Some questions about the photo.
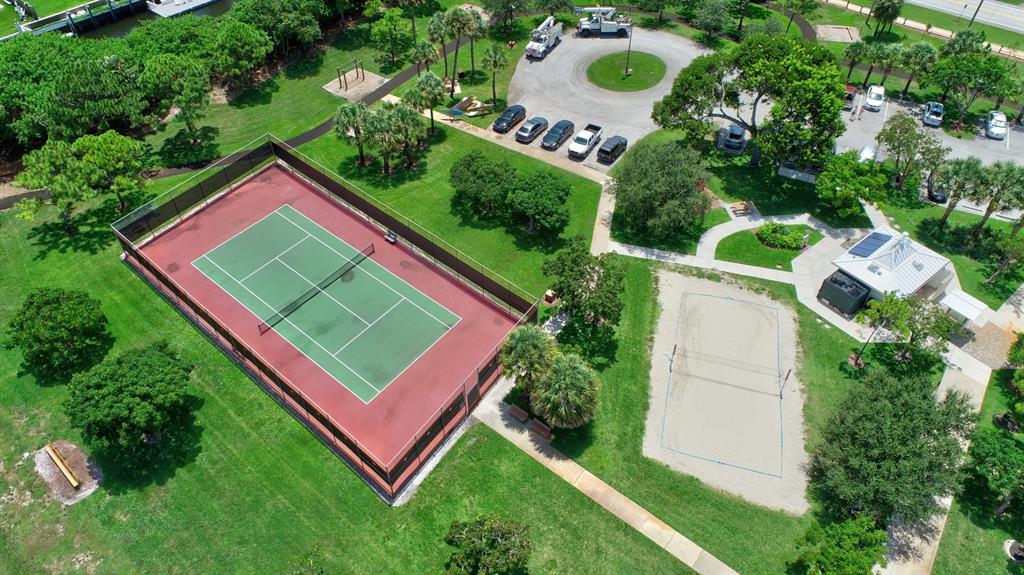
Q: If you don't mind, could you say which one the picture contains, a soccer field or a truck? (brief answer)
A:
truck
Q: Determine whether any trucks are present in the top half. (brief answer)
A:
Yes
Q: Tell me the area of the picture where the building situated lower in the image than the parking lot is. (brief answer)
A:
right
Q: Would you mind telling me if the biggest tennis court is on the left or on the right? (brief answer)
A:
left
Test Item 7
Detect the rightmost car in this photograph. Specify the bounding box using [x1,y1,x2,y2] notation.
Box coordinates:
[985,111,1009,140]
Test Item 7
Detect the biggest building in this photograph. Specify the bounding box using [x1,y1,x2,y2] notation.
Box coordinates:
[832,225,950,308]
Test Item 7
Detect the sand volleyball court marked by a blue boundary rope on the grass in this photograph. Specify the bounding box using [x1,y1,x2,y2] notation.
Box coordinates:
[643,269,812,514]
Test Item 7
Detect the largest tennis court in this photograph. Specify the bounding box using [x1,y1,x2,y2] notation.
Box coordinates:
[122,157,541,501]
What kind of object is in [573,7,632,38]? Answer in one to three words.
truck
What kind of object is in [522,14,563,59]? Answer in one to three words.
truck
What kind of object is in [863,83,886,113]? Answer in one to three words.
car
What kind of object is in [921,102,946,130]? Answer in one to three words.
car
